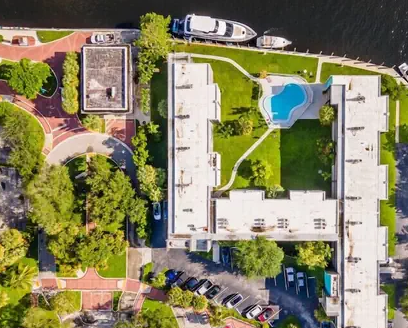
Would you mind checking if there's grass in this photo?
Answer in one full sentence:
Yes, the picture does contain grass.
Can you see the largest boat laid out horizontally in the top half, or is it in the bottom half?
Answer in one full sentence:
The top half of the photo is where the largest boat laid out horizontally is.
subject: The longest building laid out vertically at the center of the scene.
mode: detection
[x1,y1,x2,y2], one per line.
[167,53,219,251]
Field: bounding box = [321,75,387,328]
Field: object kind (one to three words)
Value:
building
